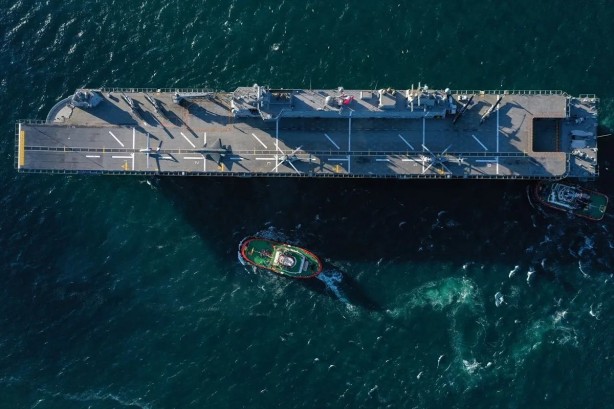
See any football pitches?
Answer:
No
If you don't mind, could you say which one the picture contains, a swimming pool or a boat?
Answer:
boat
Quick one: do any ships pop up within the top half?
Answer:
Yes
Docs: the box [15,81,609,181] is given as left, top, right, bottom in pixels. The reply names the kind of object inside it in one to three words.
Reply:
ship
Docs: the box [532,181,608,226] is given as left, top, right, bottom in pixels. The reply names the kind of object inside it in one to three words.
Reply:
boat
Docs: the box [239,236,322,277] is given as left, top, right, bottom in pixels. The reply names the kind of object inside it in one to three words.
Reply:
boat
